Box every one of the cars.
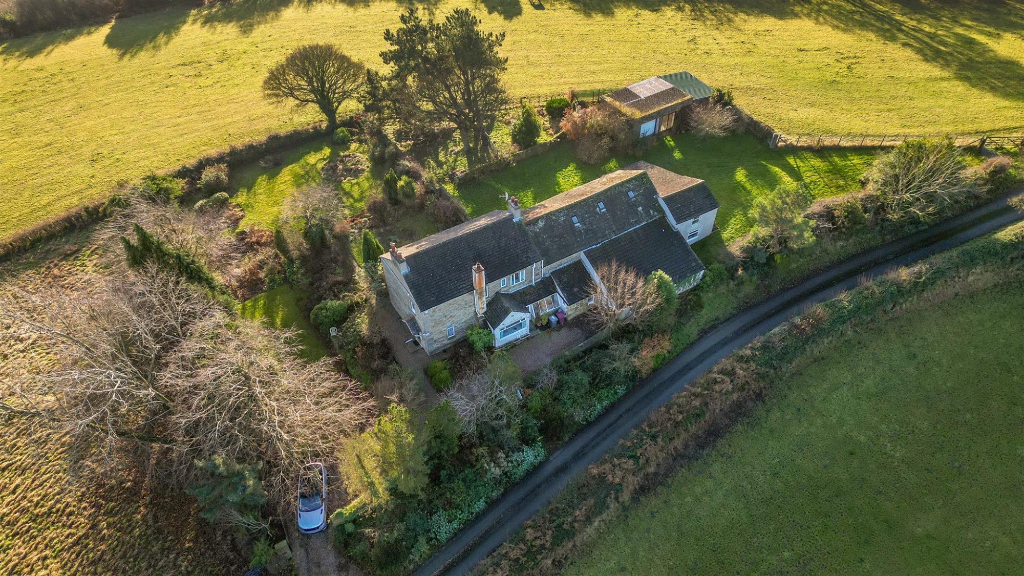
[295,466,331,536]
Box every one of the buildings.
[602,66,714,138]
[378,160,721,355]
